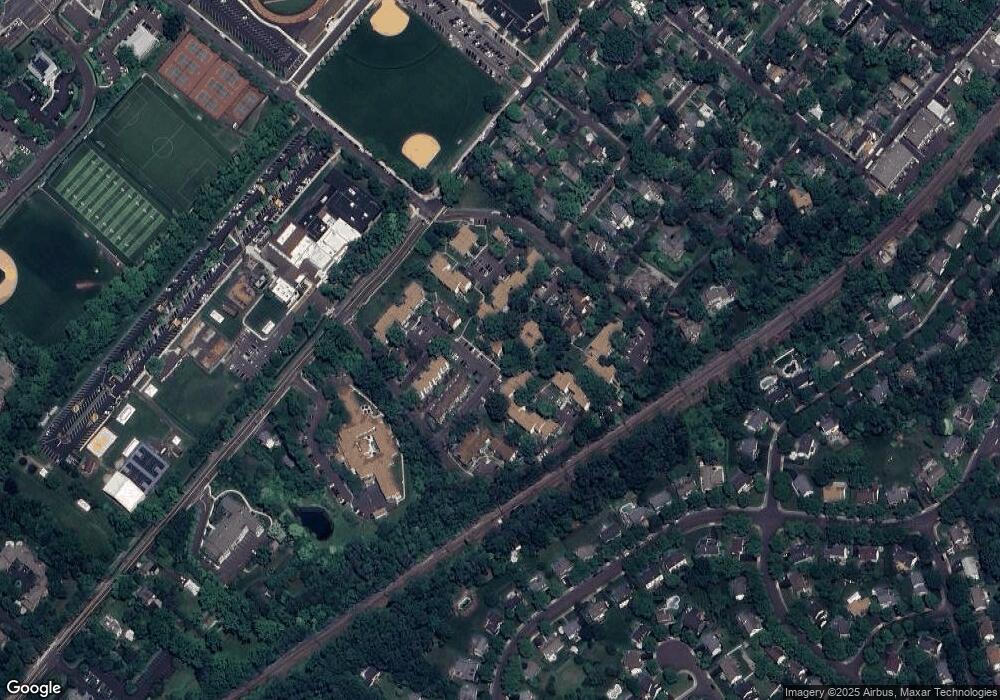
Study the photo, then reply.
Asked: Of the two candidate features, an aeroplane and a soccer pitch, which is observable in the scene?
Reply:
soccer pitch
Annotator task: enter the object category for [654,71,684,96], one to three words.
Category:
house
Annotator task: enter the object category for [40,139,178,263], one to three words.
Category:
sports field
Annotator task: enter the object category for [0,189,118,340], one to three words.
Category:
baseball field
